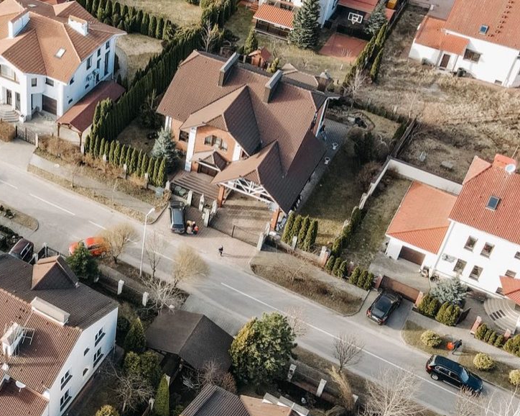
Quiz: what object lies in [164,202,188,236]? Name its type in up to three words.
car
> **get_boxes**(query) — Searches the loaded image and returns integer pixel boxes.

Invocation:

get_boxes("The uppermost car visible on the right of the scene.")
[364,289,403,326]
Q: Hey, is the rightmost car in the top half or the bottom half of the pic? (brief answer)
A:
bottom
